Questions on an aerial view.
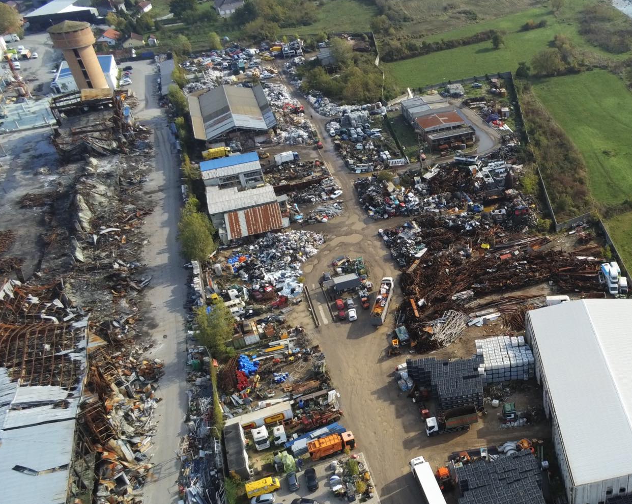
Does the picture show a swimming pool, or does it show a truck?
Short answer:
truck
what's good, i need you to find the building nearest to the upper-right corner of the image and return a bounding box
[401,95,476,151]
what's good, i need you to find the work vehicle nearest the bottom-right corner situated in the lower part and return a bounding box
[503,403,515,424]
